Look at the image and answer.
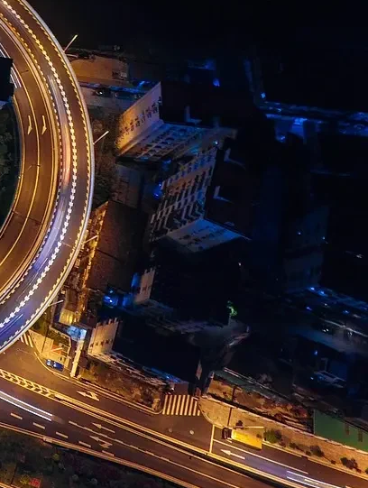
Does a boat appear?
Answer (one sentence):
No, I find no boat anywhere in the image.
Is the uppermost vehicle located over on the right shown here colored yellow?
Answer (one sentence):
Yes, yellow is the color of the uppermost vehicle located over on the right.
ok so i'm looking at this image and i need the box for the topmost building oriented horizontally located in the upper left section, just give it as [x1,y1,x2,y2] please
[72,57,129,86]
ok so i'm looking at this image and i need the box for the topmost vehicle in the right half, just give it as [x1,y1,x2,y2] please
[224,427,269,447]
